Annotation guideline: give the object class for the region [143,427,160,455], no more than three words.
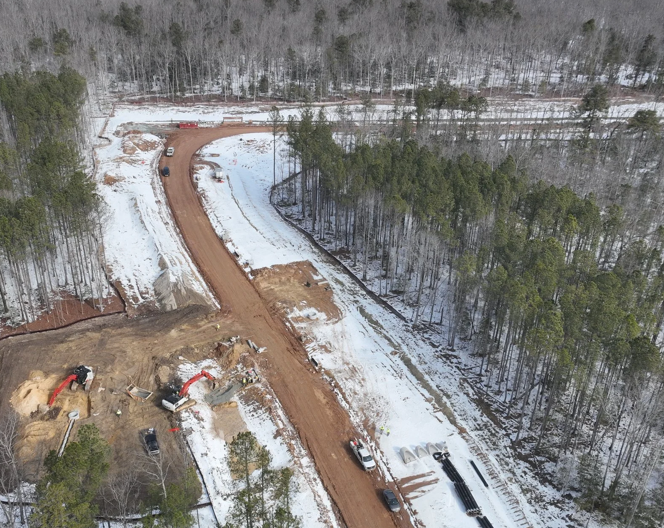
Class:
vehicle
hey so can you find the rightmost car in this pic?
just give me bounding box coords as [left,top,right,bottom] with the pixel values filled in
[383,488,403,513]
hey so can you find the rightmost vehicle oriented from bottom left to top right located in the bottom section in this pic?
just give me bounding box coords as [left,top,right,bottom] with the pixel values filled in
[168,370,221,415]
